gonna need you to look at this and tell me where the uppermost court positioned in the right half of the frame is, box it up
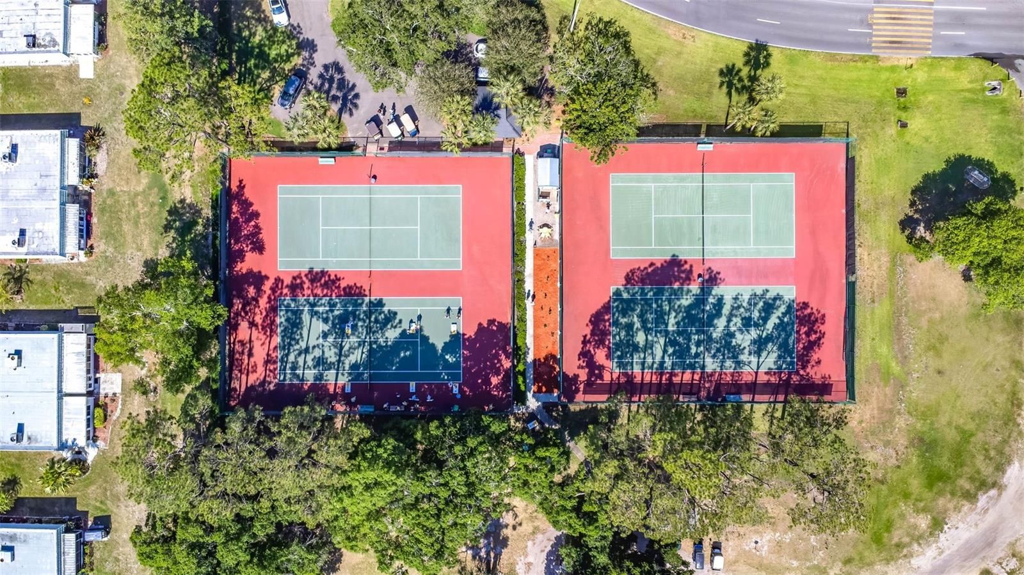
[562,142,847,272]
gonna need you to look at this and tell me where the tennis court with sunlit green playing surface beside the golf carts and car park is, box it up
[229,155,513,283]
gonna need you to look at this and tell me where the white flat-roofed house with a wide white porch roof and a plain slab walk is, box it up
[0,0,106,60]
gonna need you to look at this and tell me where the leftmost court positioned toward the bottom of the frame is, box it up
[229,283,513,412]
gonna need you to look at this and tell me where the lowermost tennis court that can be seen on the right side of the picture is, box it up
[562,272,847,403]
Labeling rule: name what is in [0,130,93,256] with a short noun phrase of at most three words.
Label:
house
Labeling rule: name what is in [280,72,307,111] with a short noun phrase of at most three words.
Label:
car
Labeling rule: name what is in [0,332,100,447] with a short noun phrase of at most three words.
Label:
house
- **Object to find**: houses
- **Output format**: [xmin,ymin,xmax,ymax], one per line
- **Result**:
[0,130,93,256]
[0,522,90,575]
[0,0,106,60]
[0,332,100,447]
